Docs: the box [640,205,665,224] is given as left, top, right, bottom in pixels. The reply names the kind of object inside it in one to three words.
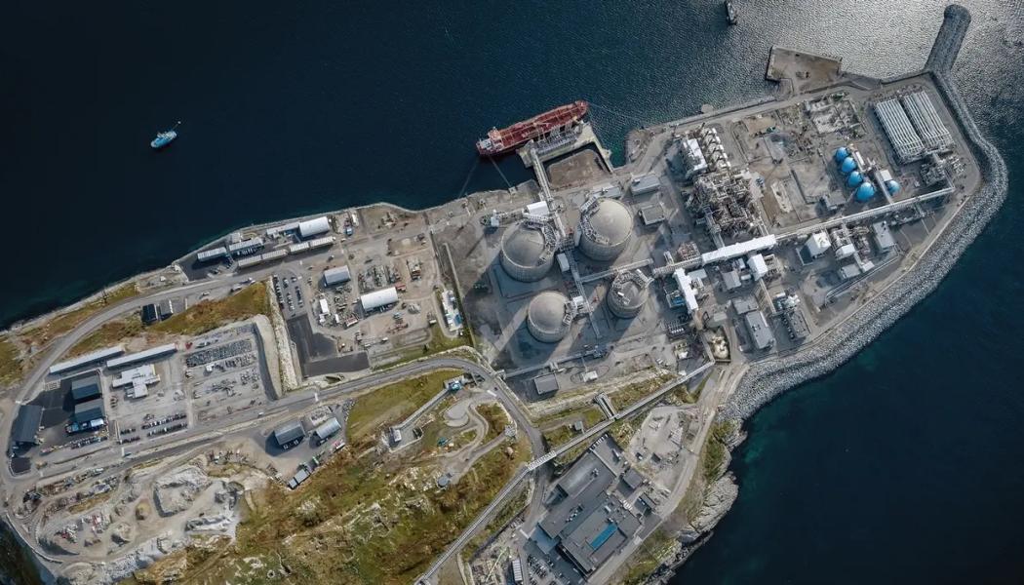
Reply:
shed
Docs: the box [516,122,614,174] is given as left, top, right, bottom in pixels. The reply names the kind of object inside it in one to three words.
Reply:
pier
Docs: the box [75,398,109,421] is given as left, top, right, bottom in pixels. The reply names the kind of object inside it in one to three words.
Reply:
building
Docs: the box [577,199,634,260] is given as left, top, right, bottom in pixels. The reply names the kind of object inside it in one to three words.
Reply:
storage tank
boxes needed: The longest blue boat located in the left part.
[149,126,189,148]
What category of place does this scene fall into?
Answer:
port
